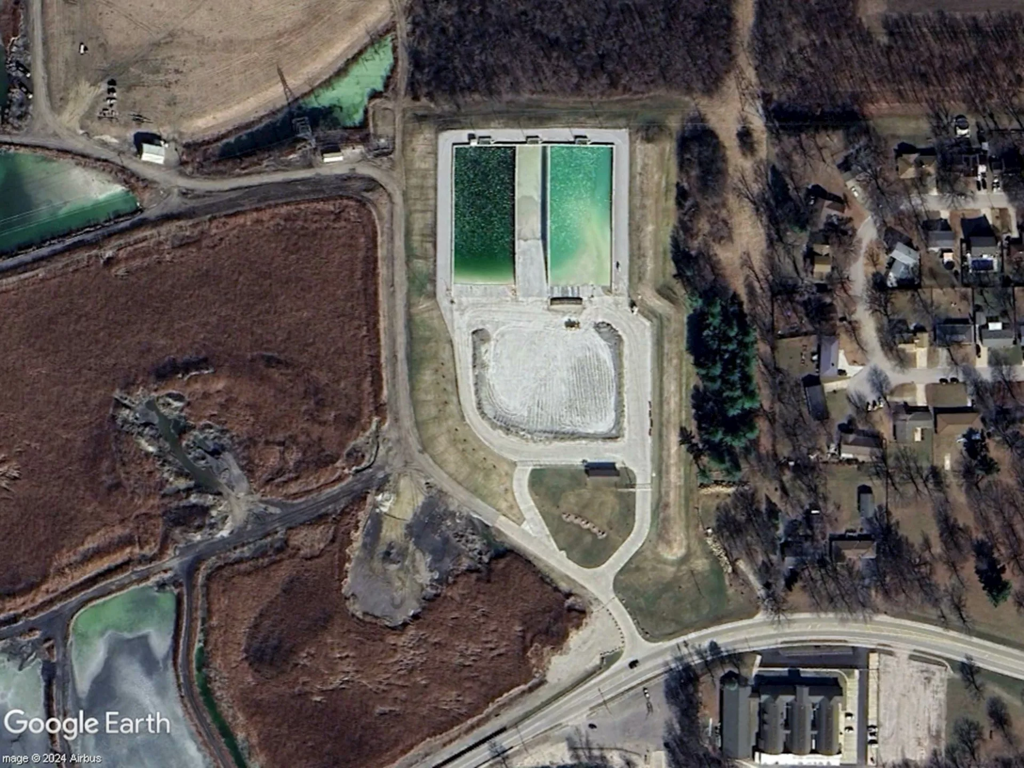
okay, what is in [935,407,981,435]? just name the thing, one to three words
house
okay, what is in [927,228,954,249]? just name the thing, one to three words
house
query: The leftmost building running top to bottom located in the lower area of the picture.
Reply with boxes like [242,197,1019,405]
[722,682,758,761]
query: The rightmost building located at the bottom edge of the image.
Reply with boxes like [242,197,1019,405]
[759,679,843,755]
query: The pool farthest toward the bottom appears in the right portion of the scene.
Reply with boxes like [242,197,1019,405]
[970,258,994,271]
